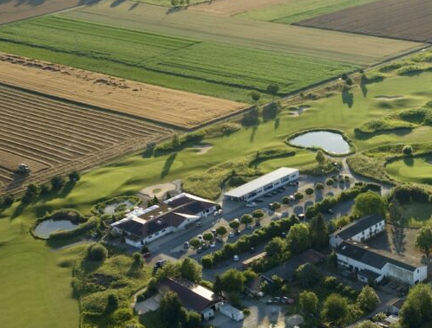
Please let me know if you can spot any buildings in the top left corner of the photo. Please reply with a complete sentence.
No, I can find no building in the top left corner of the photo.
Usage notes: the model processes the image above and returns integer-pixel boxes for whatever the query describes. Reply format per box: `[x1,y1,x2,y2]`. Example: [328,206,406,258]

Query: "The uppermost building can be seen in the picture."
[222,166,300,203]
